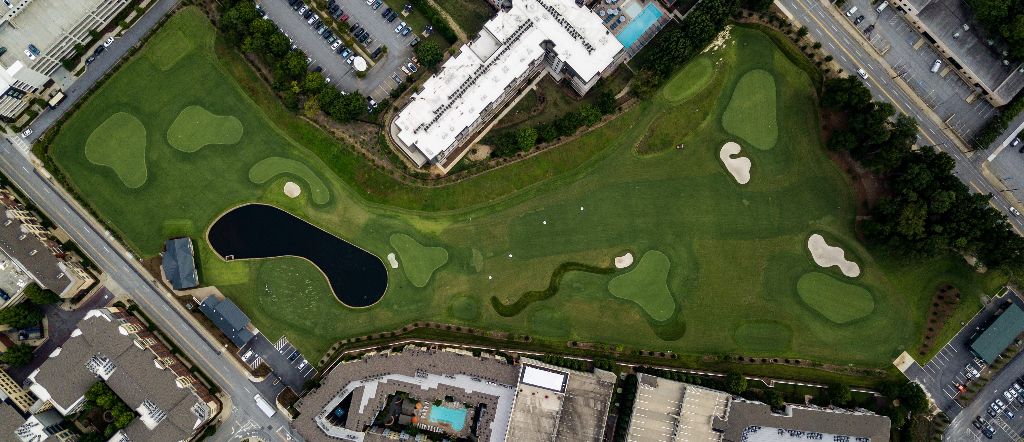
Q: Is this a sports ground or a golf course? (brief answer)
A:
golf course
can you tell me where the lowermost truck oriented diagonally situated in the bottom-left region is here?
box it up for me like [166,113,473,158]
[255,394,279,419]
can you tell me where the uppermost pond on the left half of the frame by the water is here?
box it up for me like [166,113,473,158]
[205,202,388,309]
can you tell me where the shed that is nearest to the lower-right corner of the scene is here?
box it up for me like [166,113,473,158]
[965,303,1024,364]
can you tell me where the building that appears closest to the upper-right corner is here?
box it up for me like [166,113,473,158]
[888,0,1024,106]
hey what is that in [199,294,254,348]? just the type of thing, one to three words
building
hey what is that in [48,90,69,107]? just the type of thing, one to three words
vehicle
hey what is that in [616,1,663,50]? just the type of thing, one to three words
swimming pool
